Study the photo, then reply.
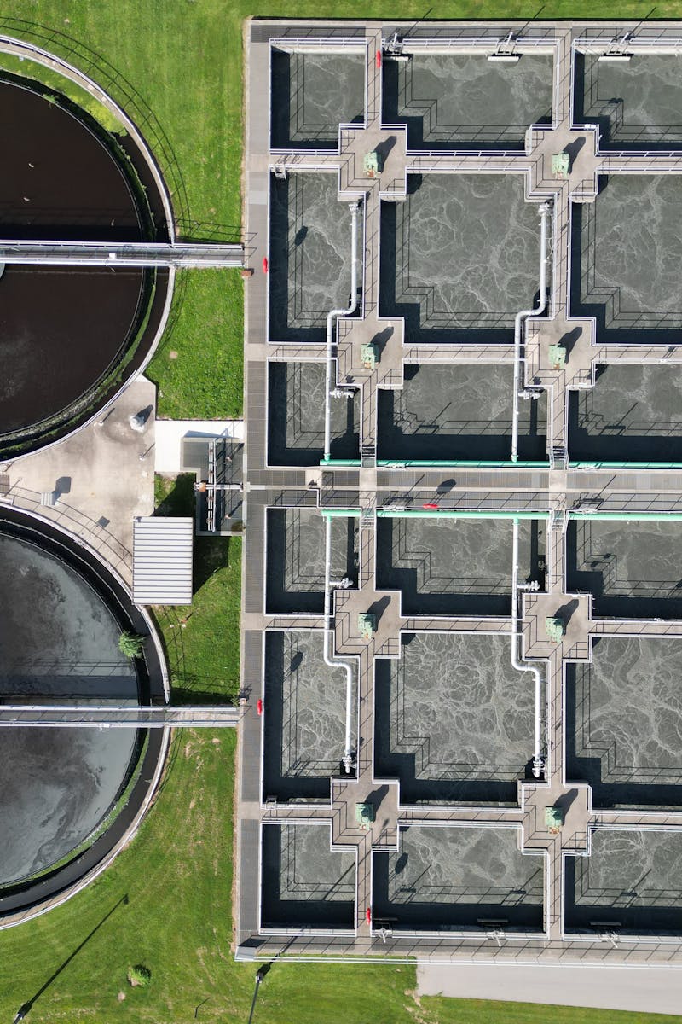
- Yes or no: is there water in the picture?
Yes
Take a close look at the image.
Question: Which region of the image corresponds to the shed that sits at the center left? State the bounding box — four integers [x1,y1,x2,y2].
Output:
[134,516,197,605]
